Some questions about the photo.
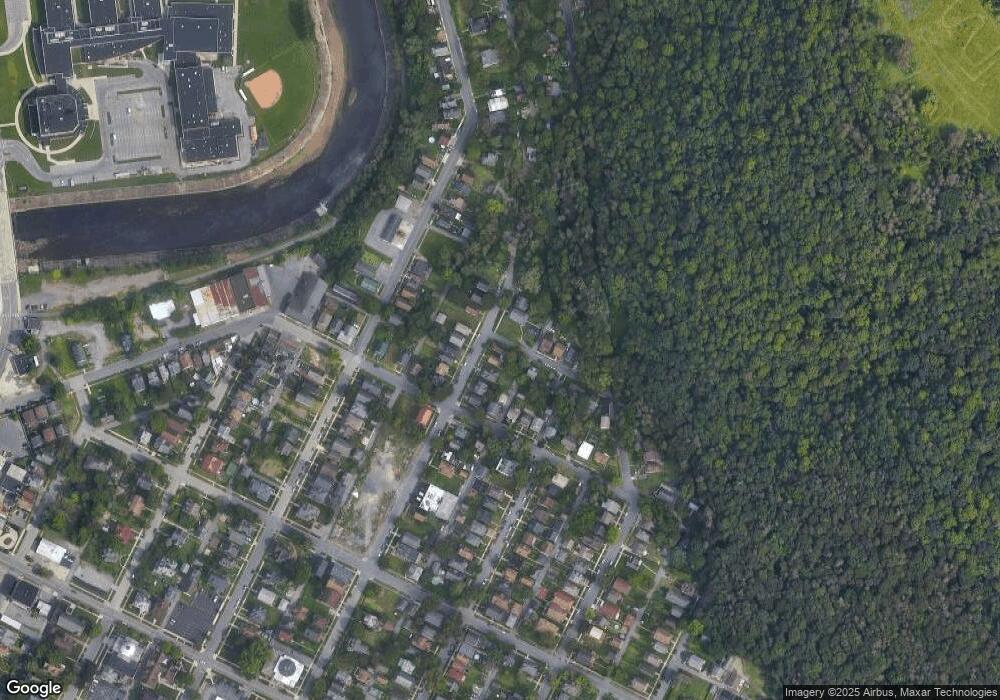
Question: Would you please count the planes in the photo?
zero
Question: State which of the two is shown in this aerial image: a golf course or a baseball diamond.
baseball diamond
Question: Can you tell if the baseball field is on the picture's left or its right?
left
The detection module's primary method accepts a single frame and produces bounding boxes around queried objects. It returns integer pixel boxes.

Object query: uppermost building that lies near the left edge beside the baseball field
[28,0,241,163]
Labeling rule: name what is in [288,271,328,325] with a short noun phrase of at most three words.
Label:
building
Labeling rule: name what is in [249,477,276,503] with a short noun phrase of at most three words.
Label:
house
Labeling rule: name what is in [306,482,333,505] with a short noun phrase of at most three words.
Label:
house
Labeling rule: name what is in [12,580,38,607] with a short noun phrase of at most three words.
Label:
building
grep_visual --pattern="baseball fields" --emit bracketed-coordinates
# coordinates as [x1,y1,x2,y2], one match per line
[238,42,314,142]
